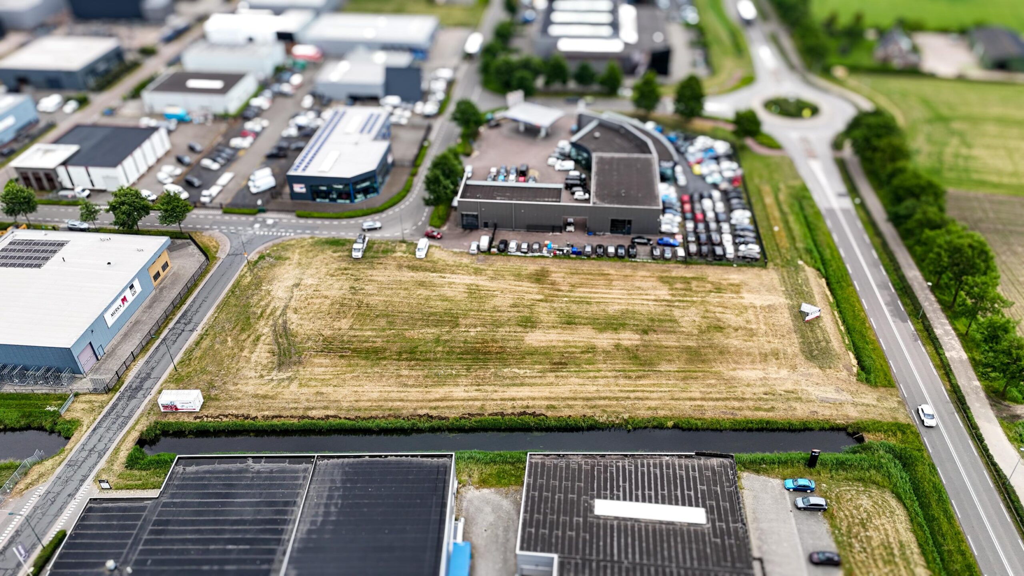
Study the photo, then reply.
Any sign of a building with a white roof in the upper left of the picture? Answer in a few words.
Yes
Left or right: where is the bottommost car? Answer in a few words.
right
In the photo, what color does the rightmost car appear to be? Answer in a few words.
white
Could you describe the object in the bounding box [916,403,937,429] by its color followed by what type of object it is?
white car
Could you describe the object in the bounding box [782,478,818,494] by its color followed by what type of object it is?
blue car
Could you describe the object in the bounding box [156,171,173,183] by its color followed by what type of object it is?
white vehicle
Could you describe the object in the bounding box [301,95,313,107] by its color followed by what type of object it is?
white vehicle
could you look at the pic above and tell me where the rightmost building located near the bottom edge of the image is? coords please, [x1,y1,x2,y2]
[515,453,758,576]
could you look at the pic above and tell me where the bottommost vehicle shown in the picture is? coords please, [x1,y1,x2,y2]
[807,549,843,569]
